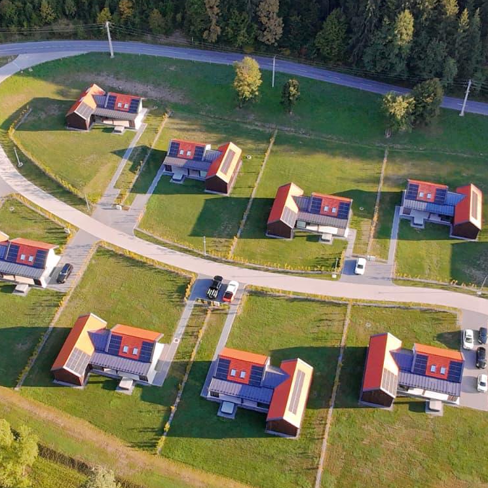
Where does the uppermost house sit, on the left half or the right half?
left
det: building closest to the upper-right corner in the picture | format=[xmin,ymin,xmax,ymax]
[396,181,483,242]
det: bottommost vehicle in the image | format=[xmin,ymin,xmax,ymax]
[476,371,488,394]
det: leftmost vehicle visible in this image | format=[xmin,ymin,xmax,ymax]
[56,264,74,282]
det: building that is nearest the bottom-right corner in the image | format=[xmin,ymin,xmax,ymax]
[358,332,465,416]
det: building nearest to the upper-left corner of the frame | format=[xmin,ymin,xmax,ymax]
[65,86,149,133]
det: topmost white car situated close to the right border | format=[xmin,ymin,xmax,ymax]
[462,328,475,350]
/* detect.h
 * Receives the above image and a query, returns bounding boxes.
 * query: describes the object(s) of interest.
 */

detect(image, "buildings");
[0,232,65,297]
[50,313,171,393]
[203,349,314,441]
[161,141,242,194]
[265,183,355,243]
[65,86,149,133]
[358,332,465,416]
[396,181,483,242]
